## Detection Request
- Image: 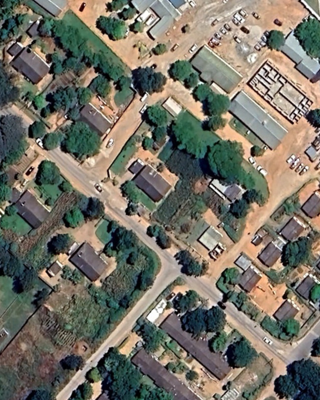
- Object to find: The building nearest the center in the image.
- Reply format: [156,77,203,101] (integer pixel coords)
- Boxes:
[132,165,172,202]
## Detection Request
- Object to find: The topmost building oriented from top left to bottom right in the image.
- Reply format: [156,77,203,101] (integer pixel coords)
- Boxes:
[156,0,187,24]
